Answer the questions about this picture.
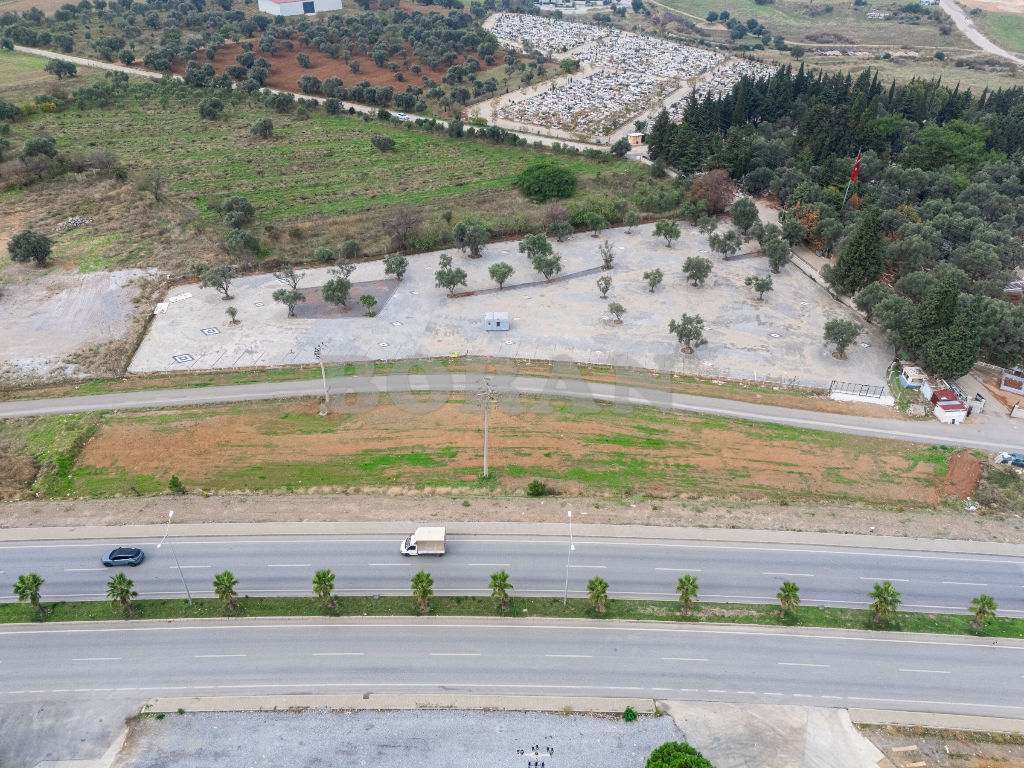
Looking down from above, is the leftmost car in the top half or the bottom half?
bottom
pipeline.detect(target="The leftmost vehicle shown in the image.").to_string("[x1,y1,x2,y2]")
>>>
[101,544,148,566]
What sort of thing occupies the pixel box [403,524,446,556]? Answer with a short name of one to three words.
truck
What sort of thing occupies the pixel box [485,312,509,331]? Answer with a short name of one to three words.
building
